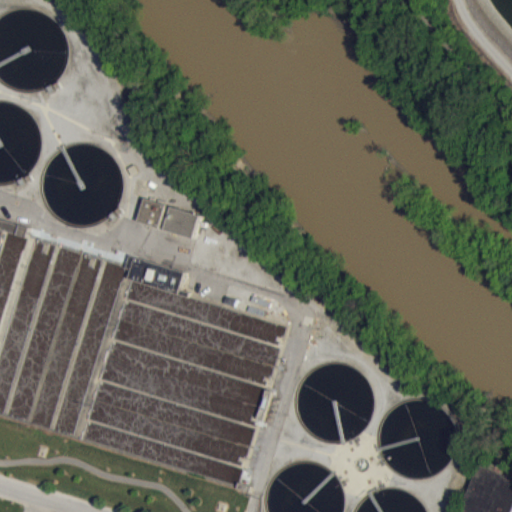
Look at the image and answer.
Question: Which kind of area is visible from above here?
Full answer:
It's an industrial area.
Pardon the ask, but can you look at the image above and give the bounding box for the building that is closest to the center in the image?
[162,207,202,238]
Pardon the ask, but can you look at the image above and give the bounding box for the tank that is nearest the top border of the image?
[0,4,72,97]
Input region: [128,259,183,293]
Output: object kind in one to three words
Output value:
building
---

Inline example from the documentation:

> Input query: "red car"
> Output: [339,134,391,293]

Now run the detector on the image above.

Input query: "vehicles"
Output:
[200,286,211,297]
[196,282,201,292]
[18,218,29,224]
[1,206,10,218]
[222,296,241,306]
